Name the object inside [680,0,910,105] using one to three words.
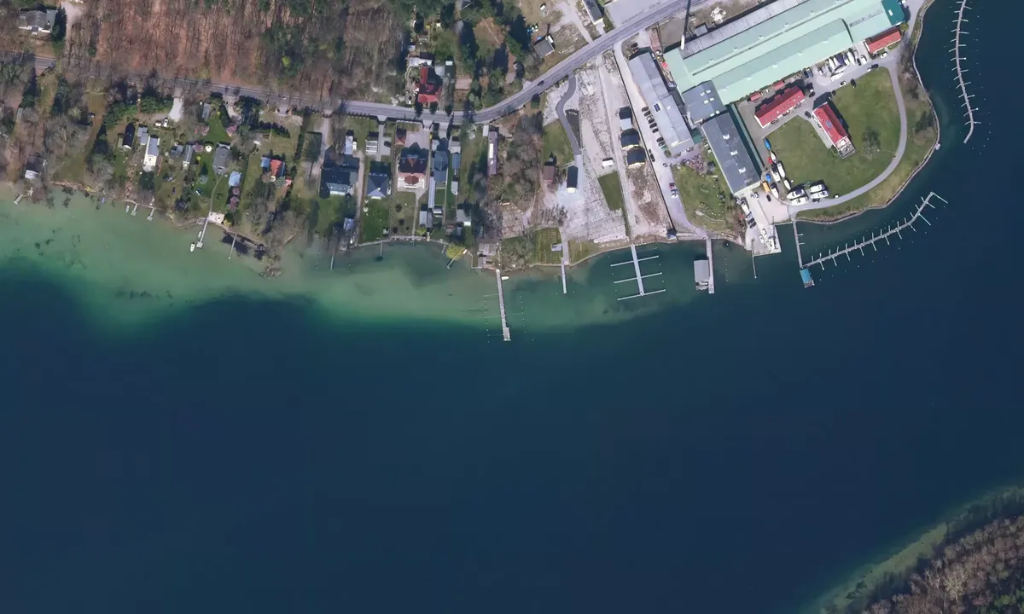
building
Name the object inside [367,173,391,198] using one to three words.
house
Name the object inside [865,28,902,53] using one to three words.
house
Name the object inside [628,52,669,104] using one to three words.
building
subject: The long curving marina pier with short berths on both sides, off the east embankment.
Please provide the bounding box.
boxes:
[949,0,982,143]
